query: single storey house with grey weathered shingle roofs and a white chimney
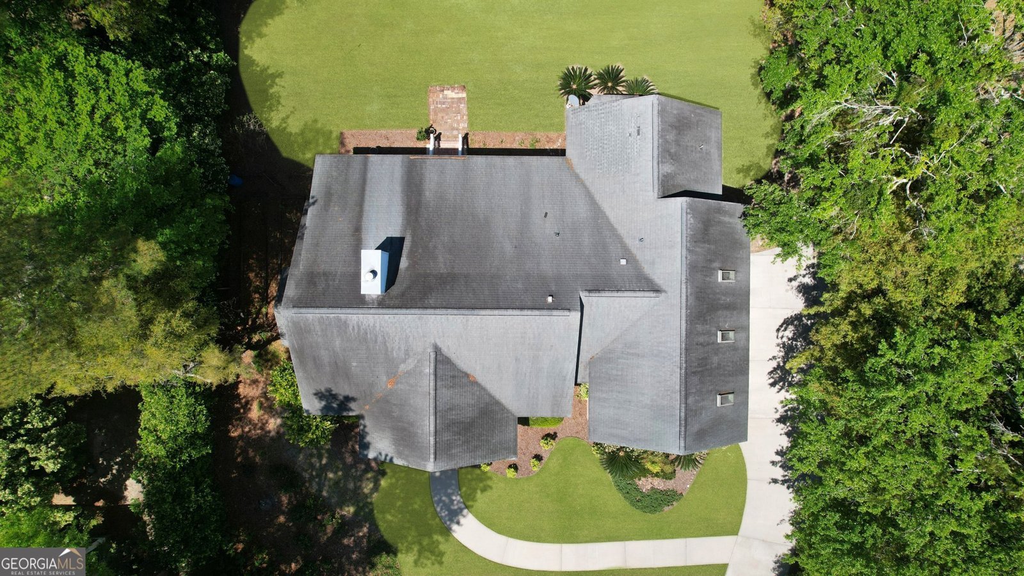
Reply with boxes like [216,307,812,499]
[274,95,749,470]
